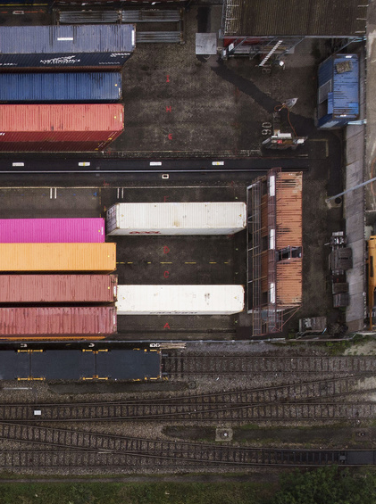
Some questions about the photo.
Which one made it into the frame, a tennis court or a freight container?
freight container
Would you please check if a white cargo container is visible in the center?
Yes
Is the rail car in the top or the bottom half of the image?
bottom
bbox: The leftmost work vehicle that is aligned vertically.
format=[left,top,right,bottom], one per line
[325,223,368,311]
